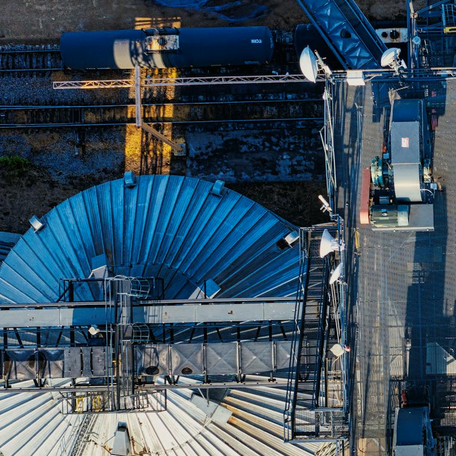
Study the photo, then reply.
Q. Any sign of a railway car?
Yes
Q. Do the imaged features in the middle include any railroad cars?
No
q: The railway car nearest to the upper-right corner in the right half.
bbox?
[291,19,454,67]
